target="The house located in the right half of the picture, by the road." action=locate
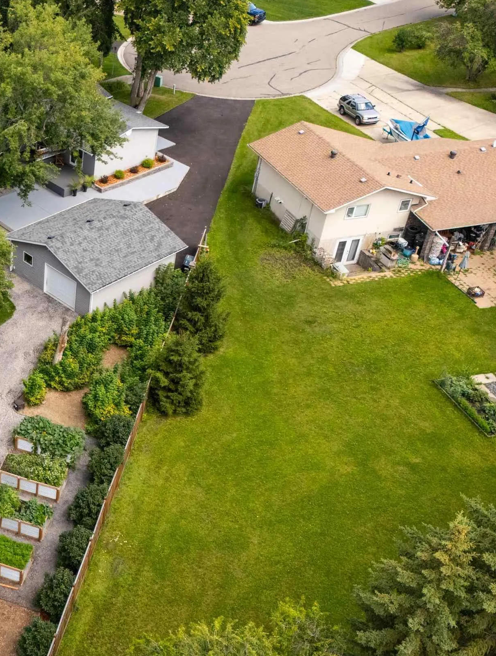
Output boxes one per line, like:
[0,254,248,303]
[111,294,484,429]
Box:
[247,122,496,265]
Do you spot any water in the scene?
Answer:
No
